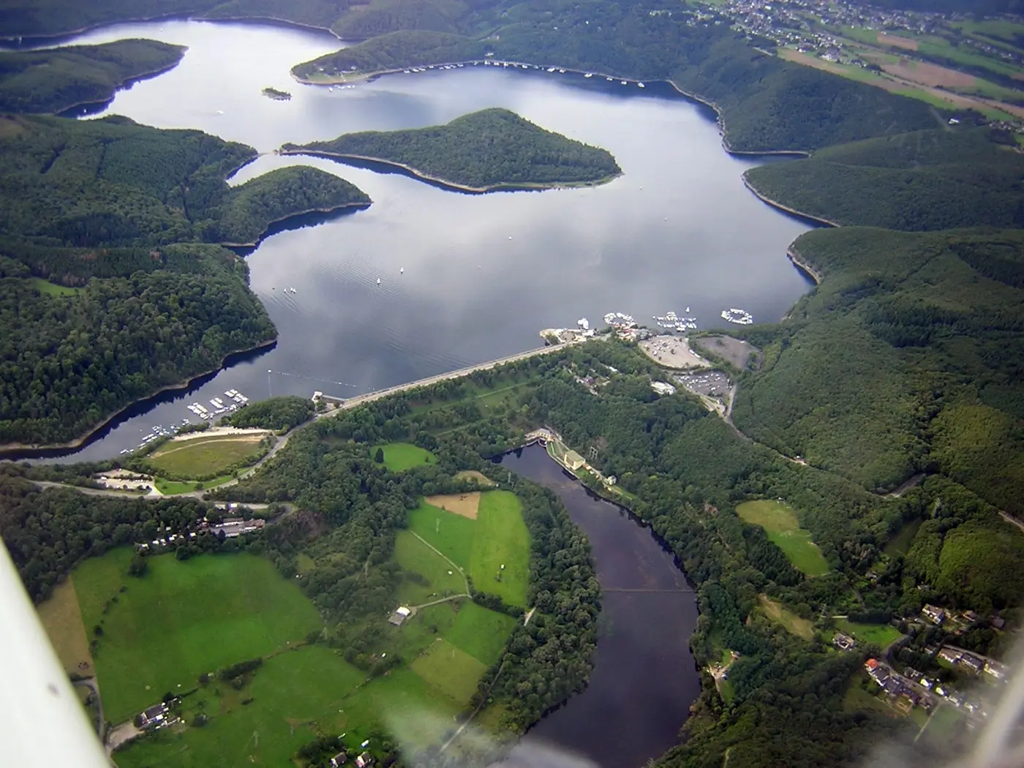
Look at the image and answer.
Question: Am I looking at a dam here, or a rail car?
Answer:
dam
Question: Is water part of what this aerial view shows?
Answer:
Yes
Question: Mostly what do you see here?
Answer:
trees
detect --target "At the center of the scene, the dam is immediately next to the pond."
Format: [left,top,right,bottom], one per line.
[330,343,564,413]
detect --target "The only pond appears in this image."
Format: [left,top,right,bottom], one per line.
[497,441,700,768]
